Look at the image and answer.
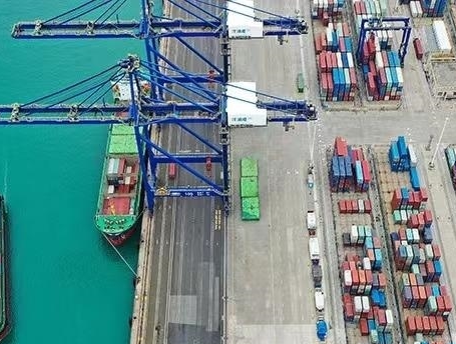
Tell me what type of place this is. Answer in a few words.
port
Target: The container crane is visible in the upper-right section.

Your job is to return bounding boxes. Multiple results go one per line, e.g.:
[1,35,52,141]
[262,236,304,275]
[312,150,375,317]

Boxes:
[355,17,413,67]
